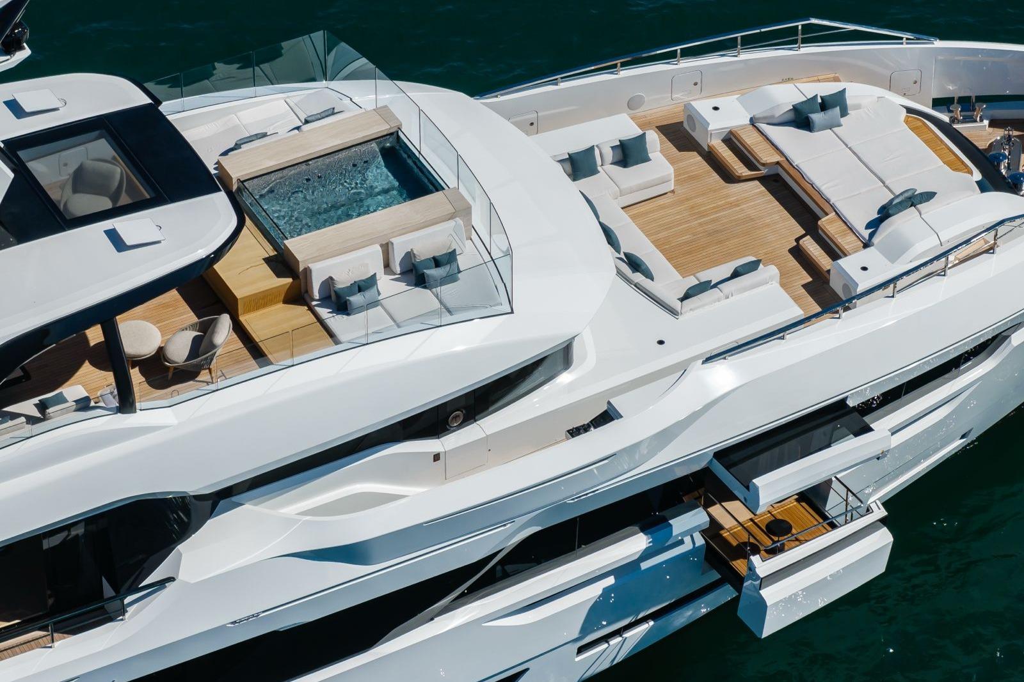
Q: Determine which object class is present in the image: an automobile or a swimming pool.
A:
swimming pool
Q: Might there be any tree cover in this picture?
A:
No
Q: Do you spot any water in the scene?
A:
Yes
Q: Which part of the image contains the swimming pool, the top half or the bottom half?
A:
top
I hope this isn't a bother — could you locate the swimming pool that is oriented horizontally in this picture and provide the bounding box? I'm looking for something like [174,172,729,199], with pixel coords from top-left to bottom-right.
[242,135,451,242]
